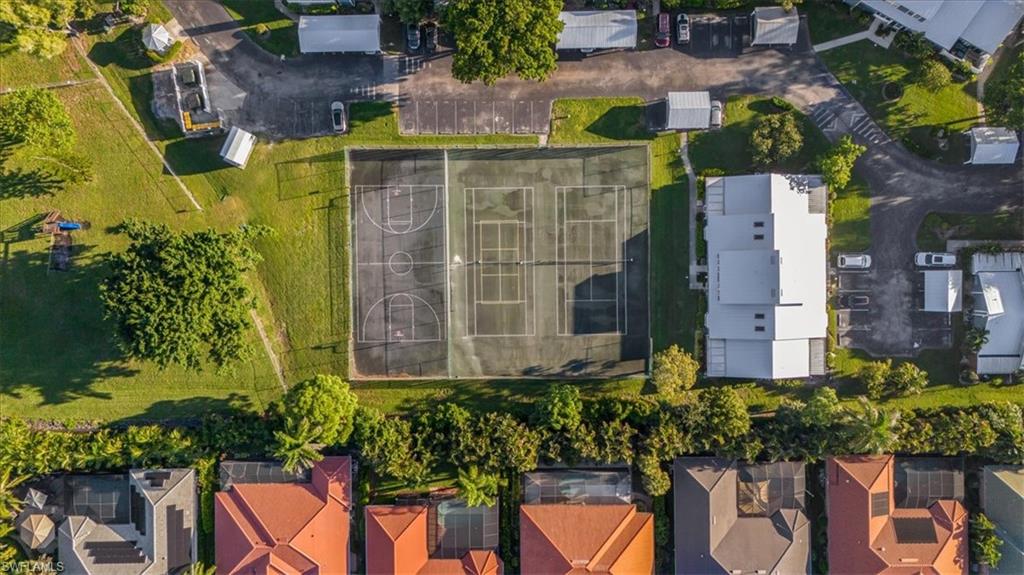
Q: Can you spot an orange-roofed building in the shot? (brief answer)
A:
Yes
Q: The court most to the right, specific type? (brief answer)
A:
tennis court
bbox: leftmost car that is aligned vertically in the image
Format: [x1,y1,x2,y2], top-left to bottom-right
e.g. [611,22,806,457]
[331,101,347,134]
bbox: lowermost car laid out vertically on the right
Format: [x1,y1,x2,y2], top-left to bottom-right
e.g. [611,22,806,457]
[710,98,724,130]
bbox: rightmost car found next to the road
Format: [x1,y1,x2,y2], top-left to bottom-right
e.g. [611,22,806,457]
[915,252,956,268]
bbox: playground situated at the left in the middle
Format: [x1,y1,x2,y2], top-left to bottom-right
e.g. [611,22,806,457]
[35,210,82,273]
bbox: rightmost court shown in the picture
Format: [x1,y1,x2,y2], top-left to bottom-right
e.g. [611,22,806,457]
[545,148,650,377]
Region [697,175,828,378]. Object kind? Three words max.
building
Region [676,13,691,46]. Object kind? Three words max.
car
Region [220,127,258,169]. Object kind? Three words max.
shed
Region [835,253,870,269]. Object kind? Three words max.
car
